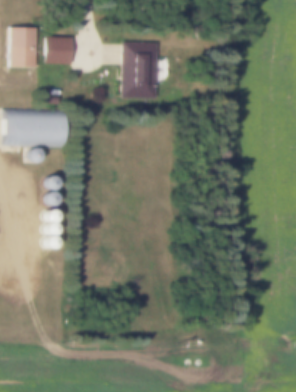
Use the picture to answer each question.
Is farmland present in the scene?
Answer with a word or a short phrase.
Yes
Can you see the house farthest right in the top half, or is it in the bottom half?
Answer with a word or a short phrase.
top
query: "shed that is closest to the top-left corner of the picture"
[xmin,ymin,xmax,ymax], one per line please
[4,26,37,70]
